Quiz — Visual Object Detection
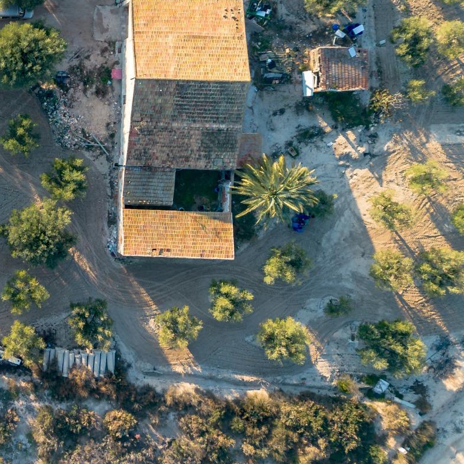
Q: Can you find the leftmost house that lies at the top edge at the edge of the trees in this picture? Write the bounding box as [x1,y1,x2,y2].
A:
[109,0,251,171]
